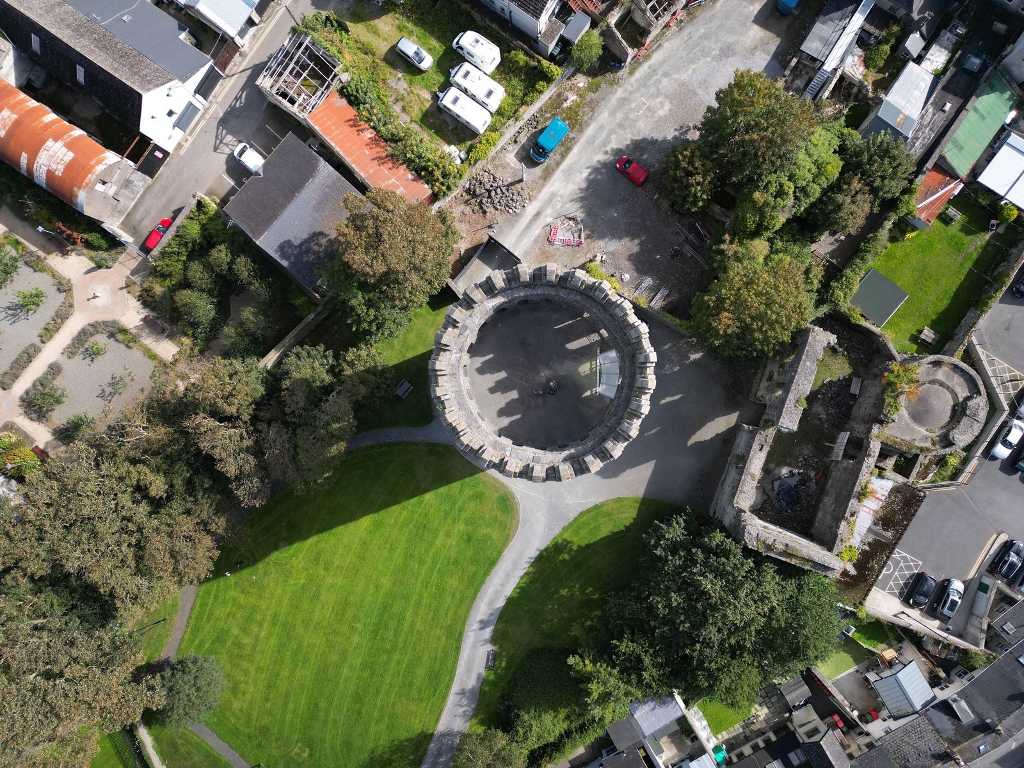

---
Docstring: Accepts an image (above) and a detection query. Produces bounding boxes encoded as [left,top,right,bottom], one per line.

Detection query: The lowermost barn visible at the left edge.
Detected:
[0,80,152,221]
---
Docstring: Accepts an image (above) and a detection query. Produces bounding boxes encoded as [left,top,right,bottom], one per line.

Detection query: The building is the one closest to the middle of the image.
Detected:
[433,260,654,482]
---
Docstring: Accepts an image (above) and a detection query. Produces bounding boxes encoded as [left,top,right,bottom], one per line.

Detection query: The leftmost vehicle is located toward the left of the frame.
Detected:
[139,215,172,250]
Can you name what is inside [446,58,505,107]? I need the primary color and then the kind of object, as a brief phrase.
white camper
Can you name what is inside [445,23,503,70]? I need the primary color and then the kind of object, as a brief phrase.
white camper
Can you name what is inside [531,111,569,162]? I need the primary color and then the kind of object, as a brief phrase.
blue van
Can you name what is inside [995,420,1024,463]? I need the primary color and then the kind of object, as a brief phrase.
white car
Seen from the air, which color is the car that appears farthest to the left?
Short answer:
red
